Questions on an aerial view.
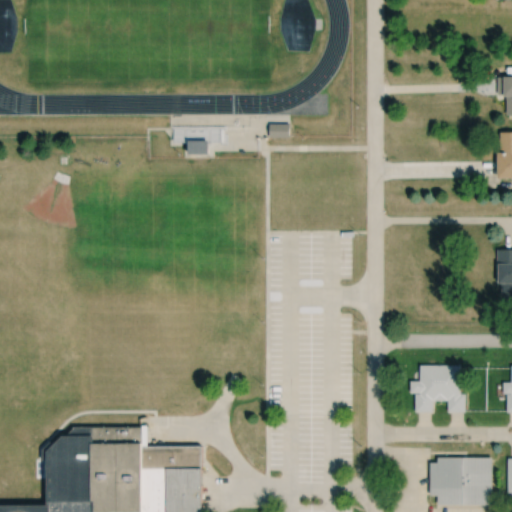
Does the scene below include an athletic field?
Yes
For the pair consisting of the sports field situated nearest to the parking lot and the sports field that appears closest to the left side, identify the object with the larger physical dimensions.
the sports field situated nearest to the parking lot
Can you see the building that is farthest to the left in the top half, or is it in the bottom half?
bottom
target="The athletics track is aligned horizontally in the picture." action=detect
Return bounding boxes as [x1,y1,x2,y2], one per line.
[0,0,351,116]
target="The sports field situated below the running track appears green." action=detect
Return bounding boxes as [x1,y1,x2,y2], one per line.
[62,170,262,316]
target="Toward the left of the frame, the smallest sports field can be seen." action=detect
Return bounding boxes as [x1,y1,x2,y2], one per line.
[24,172,78,228]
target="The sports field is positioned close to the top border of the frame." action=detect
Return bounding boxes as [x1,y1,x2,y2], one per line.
[24,0,279,92]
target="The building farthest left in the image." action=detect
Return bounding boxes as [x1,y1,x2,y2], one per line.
[0,424,202,512]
